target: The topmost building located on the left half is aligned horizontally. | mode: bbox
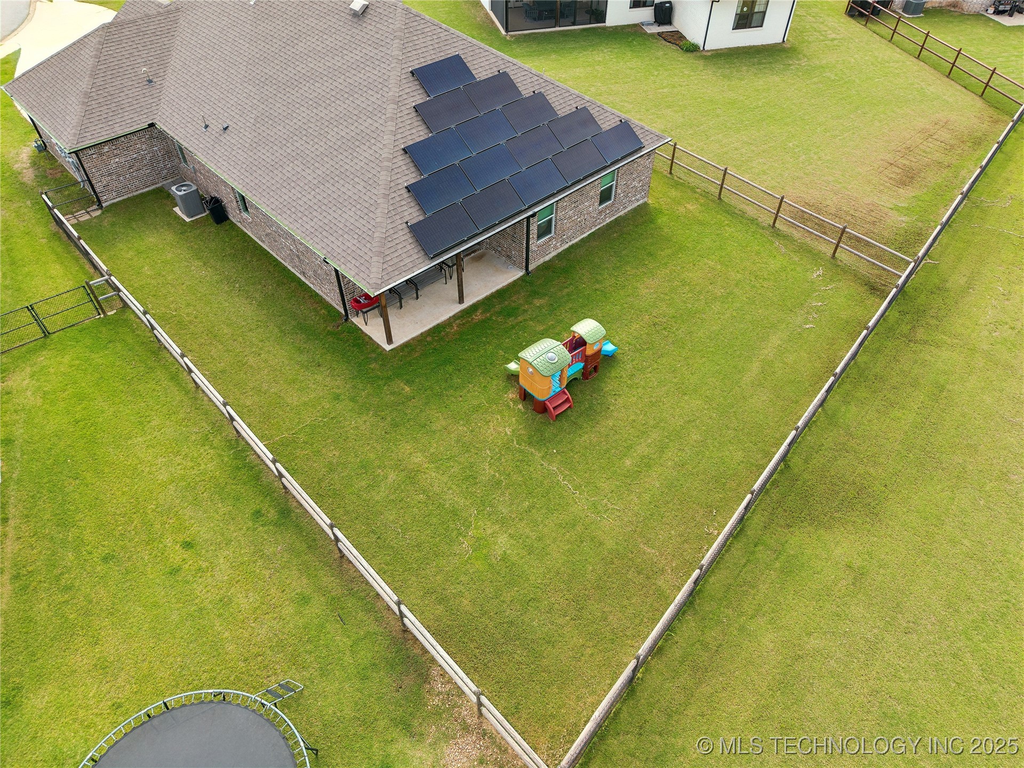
[1,0,670,348]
